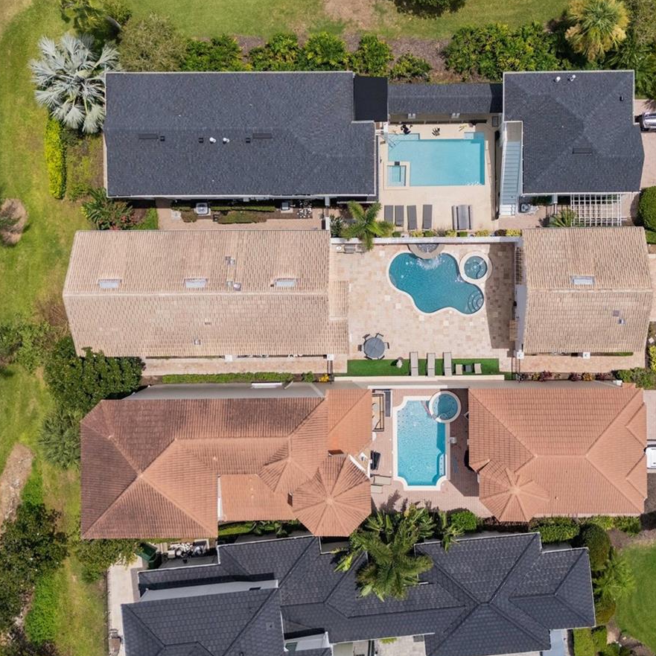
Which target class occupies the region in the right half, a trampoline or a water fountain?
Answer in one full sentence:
You can see a water fountain in the right half.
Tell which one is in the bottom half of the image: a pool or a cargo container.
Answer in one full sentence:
There is a pool in the bottom half of the image.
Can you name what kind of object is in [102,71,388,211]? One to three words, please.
house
